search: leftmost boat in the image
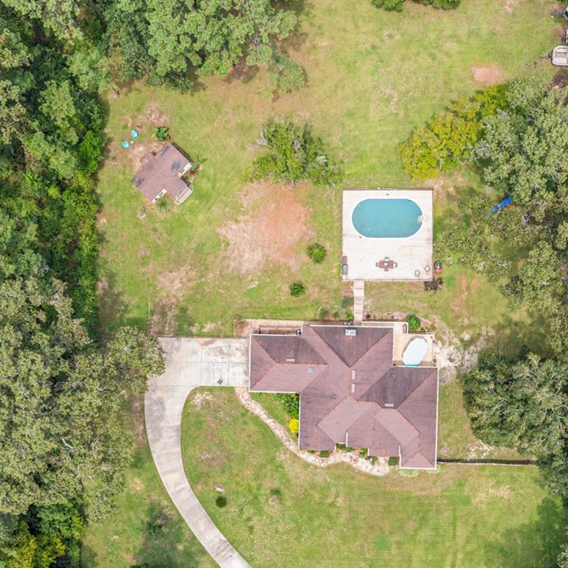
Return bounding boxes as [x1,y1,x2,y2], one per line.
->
[491,195,512,213]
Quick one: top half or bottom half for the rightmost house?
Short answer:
bottom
